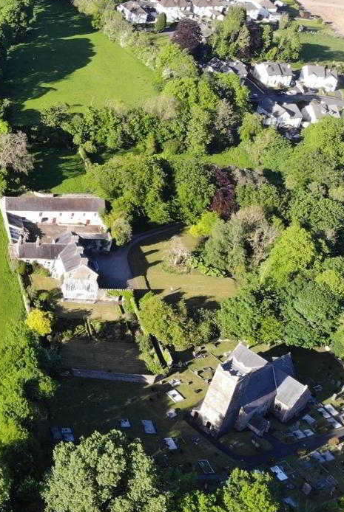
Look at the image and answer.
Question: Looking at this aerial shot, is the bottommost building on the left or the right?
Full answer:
You can find the bottommost building on the right side of the picture.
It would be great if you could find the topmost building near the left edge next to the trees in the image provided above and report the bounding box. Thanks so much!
[2,196,113,225]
